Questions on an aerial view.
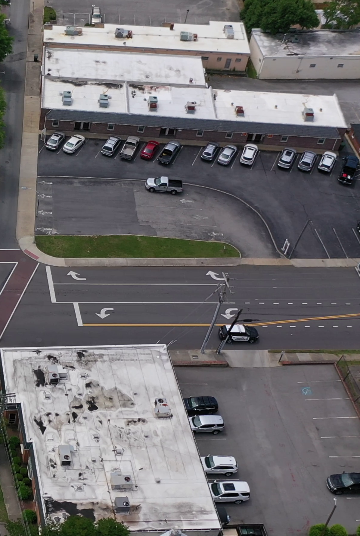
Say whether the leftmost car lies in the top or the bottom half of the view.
top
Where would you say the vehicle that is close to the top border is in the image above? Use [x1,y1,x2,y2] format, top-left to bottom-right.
[89,5,105,25]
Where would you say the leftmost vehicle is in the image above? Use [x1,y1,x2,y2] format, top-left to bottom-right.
[43,133,68,154]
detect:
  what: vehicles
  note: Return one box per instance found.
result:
[43,133,68,154]
[199,142,221,163]
[216,323,261,343]
[216,505,236,525]
[188,413,231,434]
[216,146,239,167]
[144,178,184,193]
[183,395,225,416]
[89,5,105,25]
[275,149,297,171]
[115,135,143,161]
[296,150,318,174]
[156,140,183,166]
[326,473,360,496]
[97,136,124,157]
[238,144,260,167]
[138,142,161,163]
[61,136,86,155]
[336,156,359,183]
[201,453,246,476]
[316,152,339,175]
